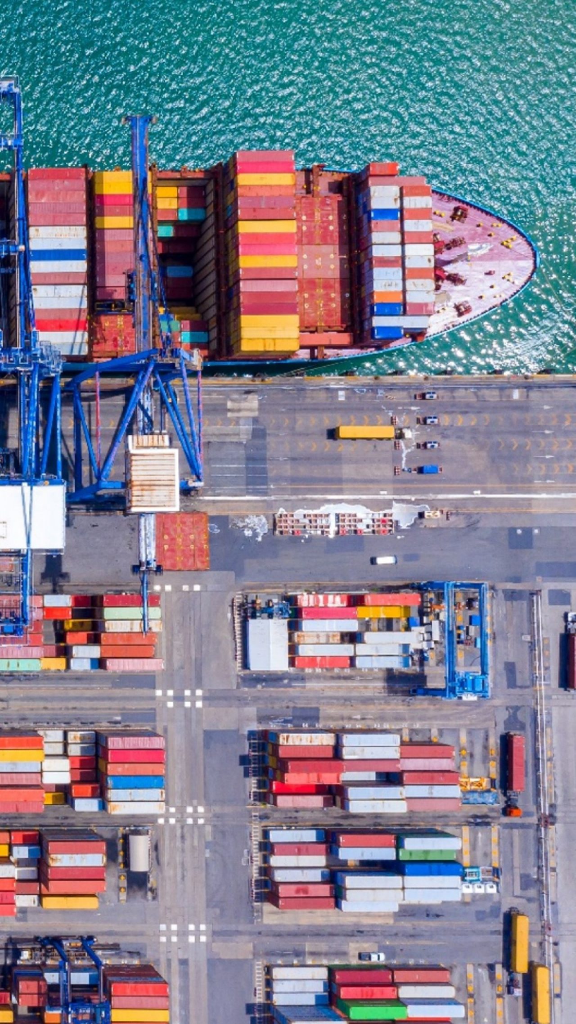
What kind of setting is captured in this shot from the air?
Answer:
port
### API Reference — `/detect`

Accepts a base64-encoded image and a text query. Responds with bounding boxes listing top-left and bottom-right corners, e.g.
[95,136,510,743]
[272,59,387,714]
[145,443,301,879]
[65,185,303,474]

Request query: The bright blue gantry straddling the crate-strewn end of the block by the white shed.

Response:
[401,579,491,706]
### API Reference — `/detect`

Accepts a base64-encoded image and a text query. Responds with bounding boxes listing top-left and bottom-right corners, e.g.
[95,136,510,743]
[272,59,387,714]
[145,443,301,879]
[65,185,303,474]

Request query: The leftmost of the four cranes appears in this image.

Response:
[0,73,64,638]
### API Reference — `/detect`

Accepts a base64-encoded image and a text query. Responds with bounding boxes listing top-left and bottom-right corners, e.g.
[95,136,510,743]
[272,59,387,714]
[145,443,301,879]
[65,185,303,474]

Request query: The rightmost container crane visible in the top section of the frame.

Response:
[56,119,205,632]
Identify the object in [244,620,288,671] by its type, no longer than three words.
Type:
shed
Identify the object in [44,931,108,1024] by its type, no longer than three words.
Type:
crane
